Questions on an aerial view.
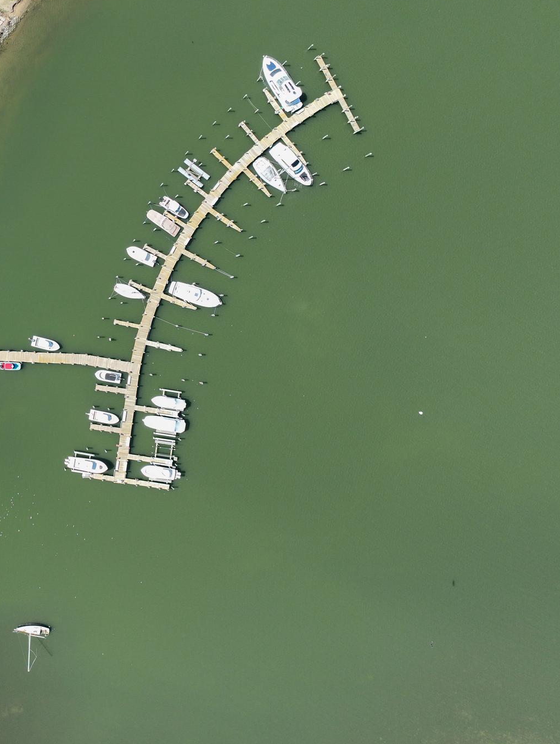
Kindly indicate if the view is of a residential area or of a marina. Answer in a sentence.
This looks like a marina.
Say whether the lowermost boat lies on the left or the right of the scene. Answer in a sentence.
The lowermost boat sits on the left side.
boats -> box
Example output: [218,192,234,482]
[0,362,21,371]
[64,456,108,474]
[142,466,180,481]
[143,415,190,433]
[267,140,314,184]
[168,280,223,308]
[149,212,180,237]
[152,395,189,410]
[260,54,301,119]
[156,194,188,217]
[113,283,145,298]
[254,157,294,192]
[81,409,120,425]
[127,247,161,267]
[25,336,59,351]
[96,370,127,384]
[15,625,49,669]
